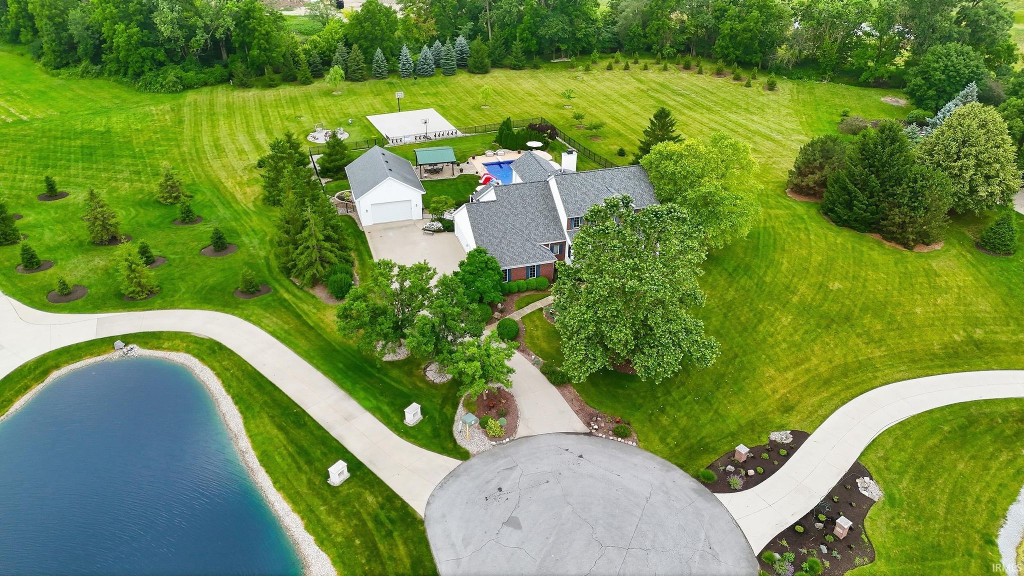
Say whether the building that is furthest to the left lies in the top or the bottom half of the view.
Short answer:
top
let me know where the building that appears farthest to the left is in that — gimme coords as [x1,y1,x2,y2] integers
[347,143,425,226]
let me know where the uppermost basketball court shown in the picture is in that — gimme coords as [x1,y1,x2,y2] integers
[366,108,463,144]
